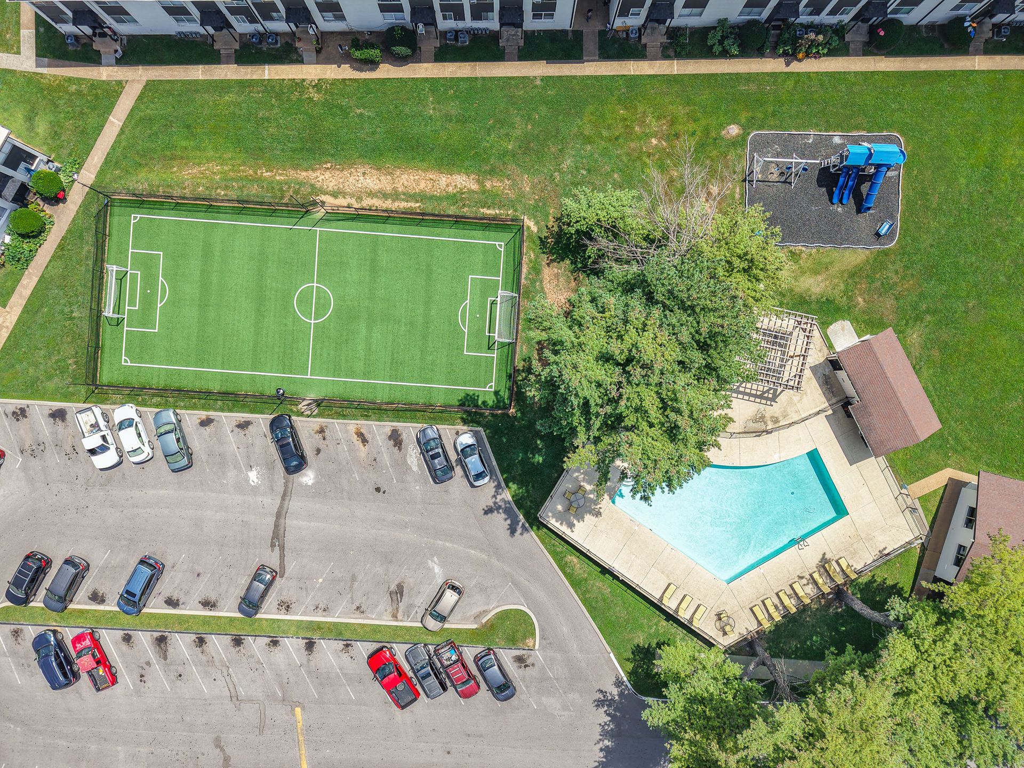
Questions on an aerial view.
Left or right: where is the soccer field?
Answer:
left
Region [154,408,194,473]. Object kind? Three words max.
car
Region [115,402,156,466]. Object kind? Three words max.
car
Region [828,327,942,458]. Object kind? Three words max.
building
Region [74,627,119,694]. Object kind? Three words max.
truck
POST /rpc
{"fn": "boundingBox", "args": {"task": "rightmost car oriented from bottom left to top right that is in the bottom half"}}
[422,576,466,633]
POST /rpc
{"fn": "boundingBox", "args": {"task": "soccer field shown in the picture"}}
[92,196,524,411]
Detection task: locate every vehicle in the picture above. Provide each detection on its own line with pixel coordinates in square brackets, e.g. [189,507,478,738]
[43,553,91,613]
[74,627,119,694]
[474,645,515,702]
[75,404,122,471]
[7,549,52,608]
[418,423,454,486]
[422,576,466,633]
[238,563,279,618]
[118,554,165,617]
[369,645,421,712]
[406,641,447,704]
[456,430,490,489]
[271,413,308,476]
[34,627,79,695]
[433,637,479,701]
[115,402,156,466]
[154,408,194,473]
